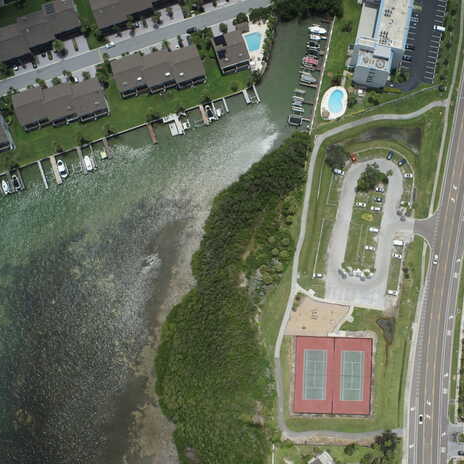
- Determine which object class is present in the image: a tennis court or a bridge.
tennis court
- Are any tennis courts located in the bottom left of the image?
No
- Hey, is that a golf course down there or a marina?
marina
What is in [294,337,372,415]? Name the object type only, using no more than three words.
tennis court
